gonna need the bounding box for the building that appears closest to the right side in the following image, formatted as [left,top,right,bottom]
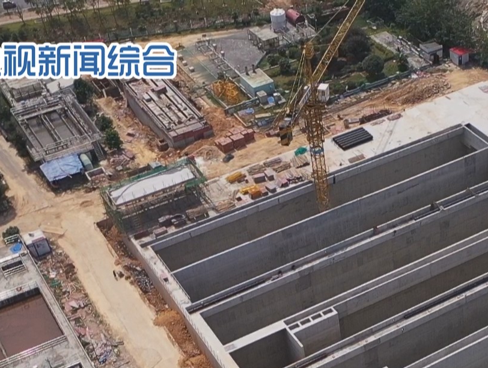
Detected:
[450,44,471,71]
